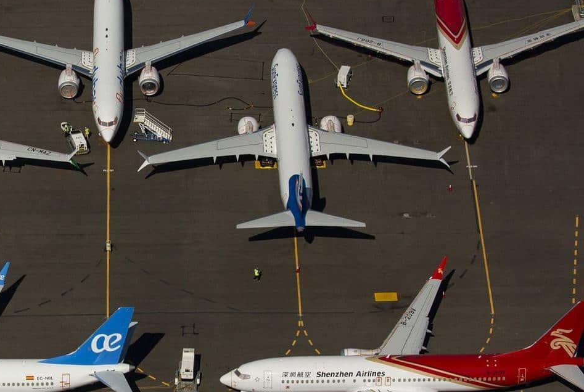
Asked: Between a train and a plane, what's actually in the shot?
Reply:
plane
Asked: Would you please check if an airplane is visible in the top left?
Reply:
Yes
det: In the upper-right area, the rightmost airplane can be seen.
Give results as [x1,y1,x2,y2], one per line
[304,0,584,140]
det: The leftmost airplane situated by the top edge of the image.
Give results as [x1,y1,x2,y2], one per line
[0,0,254,143]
